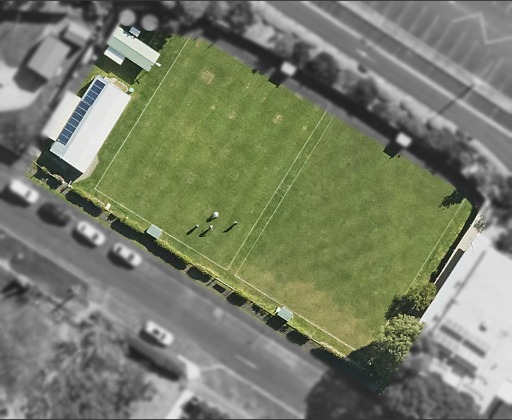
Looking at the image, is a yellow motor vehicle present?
No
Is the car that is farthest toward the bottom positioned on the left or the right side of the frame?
left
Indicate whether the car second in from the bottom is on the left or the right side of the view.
left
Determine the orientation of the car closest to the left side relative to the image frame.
on a diagonal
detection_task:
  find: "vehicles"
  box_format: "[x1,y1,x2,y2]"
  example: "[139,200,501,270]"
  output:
[40,200,68,224]
[144,320,174,344]
[112,243,142,266]
[8,178,40,205]
[74,221,106,246]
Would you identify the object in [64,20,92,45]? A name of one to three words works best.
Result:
building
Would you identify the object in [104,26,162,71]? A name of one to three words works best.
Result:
building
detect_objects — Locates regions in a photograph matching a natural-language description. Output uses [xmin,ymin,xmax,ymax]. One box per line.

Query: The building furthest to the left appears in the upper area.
[27,34,70,81]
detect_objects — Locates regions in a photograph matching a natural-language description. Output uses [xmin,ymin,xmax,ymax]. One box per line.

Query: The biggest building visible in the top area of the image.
[42,76,132,174]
